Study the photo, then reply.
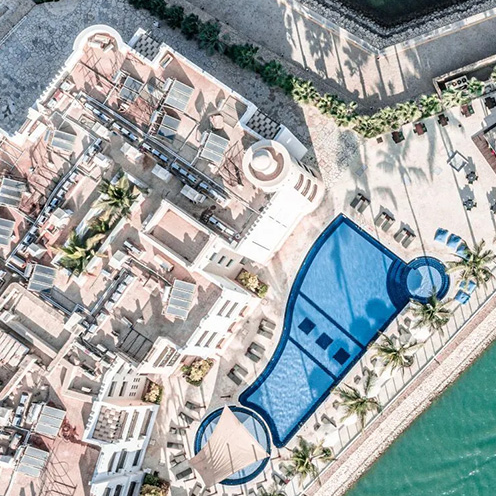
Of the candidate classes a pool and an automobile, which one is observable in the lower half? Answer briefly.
pool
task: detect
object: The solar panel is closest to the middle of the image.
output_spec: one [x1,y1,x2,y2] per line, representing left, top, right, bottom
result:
[162,279,199,320]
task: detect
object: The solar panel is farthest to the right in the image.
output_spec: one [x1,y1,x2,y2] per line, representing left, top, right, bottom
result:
[199,130,233,165]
